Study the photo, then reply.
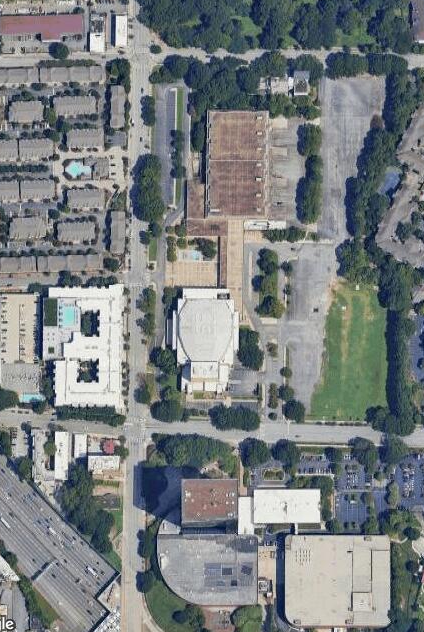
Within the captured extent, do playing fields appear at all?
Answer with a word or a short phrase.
Yes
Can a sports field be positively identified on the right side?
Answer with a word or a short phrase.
Yes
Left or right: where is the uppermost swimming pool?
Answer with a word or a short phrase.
left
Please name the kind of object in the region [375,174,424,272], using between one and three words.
building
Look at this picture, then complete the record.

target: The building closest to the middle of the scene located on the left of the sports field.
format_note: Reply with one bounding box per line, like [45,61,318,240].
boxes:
[174,288,239,395]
